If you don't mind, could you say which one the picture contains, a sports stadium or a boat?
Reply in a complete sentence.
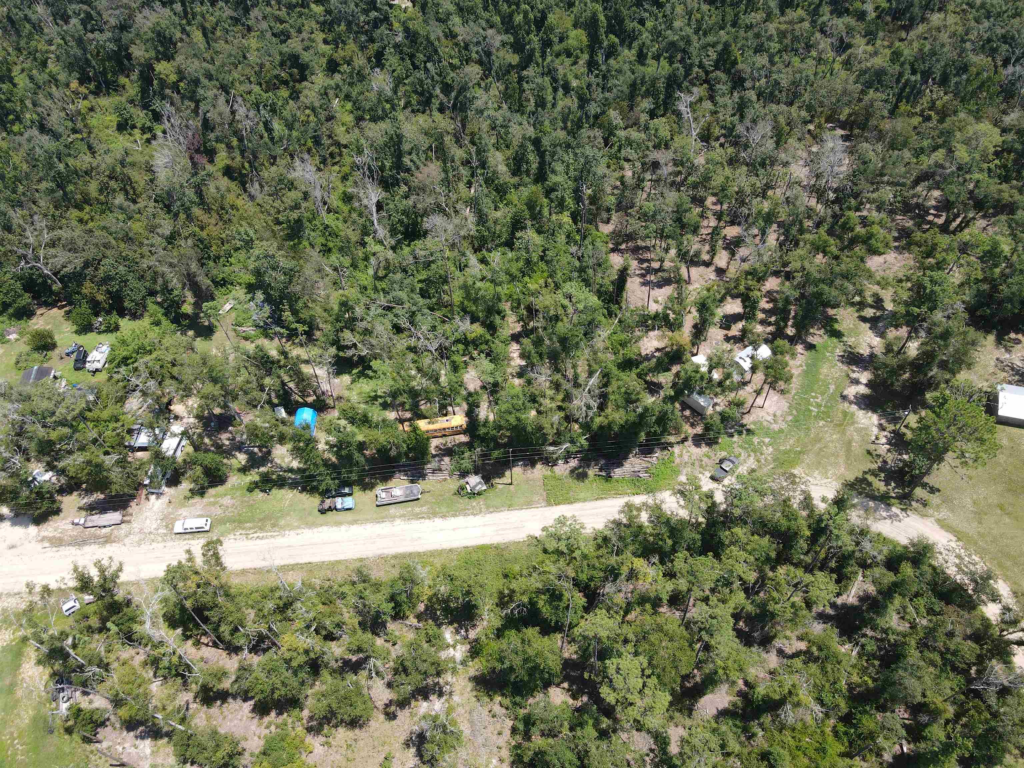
I can see a boat in this picture.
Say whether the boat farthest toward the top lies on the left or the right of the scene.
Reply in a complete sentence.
The boat farthest toward the top is on the left side of the image.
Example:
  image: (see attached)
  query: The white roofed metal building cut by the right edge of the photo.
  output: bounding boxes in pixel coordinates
[990,386,1024,429]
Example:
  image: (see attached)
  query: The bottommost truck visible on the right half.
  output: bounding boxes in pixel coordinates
[714,456,742,483]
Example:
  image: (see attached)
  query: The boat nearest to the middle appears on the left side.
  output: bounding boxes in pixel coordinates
[374,484,430,503]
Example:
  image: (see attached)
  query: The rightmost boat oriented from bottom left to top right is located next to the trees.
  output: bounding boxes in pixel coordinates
[85,342,108,373]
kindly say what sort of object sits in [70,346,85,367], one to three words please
car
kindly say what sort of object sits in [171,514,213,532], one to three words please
car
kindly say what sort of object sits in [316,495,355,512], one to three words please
vehicle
